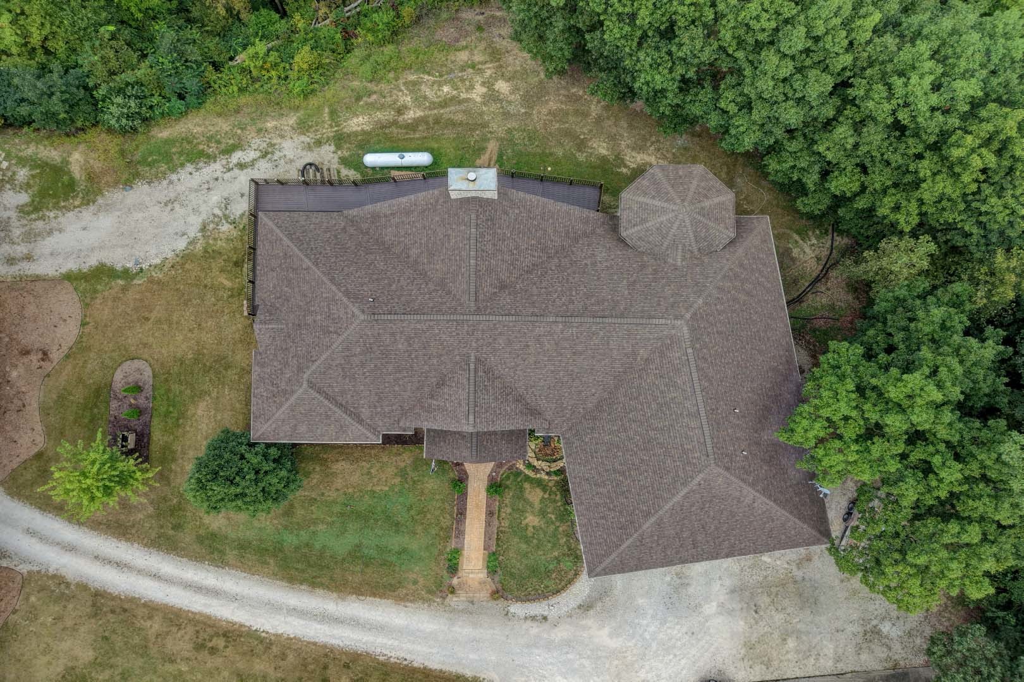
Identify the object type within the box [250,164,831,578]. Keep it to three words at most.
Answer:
house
